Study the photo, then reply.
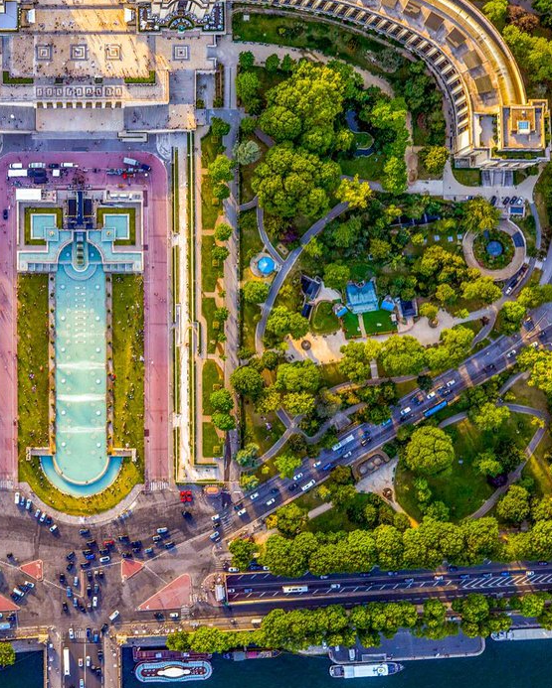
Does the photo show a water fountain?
Yes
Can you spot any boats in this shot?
Yes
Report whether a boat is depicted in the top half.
No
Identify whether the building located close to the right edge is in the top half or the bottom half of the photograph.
top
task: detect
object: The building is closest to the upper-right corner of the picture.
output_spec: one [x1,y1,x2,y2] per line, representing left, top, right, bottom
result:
[452,102,547,175]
